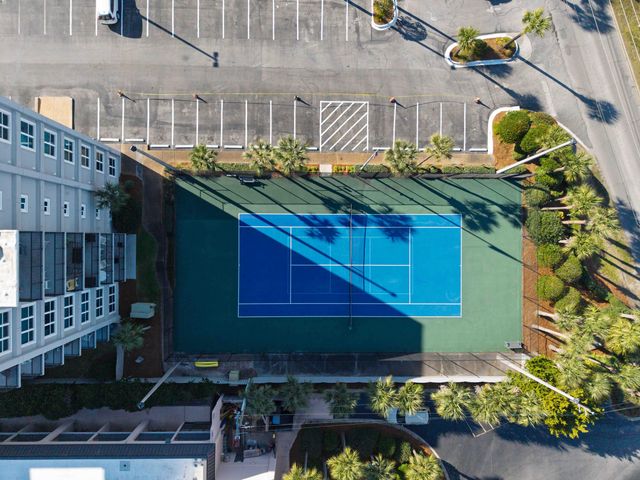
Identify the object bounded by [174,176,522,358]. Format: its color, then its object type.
blue tennis court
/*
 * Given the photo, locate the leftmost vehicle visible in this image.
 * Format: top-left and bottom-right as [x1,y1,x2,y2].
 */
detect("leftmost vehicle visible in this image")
[97,0,121,26]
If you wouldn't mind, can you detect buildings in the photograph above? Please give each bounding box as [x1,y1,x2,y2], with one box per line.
[0,399,221,480]
[0,95,137,396]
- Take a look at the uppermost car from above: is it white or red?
white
